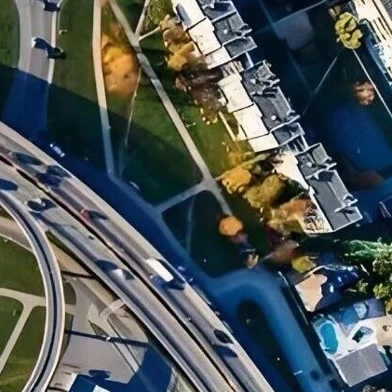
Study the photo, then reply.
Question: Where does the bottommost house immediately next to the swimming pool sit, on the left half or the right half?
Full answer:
You can find the bottommost house immediately next to the swimming pool on the right side of the picture.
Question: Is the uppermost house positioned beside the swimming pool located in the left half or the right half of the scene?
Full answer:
You can find the uppermost house positioned beside the swimming pool on the right side of the picture.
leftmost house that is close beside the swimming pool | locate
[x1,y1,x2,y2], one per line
[291,268,351,316]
